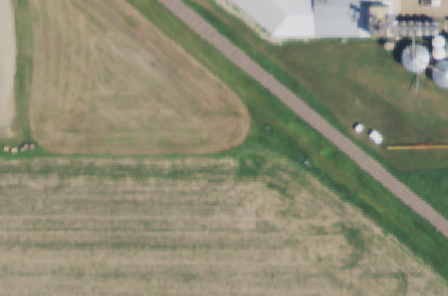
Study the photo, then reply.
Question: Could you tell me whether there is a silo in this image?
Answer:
Yes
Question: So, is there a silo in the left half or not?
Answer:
No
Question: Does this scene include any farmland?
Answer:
Yes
